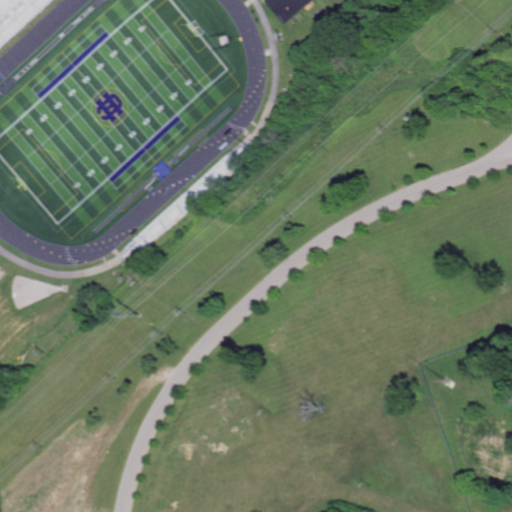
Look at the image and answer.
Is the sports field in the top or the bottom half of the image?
top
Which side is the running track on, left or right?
left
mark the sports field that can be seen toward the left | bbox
[0,0,248,244]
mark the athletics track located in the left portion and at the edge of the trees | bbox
[0,0,266,264]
